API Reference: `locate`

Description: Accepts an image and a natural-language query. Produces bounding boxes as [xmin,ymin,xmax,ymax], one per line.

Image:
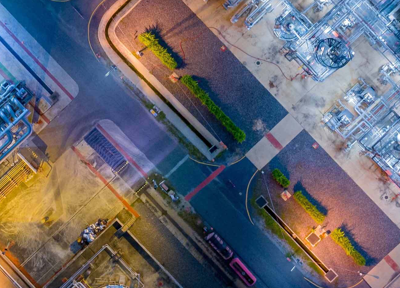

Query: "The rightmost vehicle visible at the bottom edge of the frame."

[230,259,258,288]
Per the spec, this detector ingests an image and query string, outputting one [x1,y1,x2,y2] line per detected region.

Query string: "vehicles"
[207,233,234,262]
[230,259,258,288]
